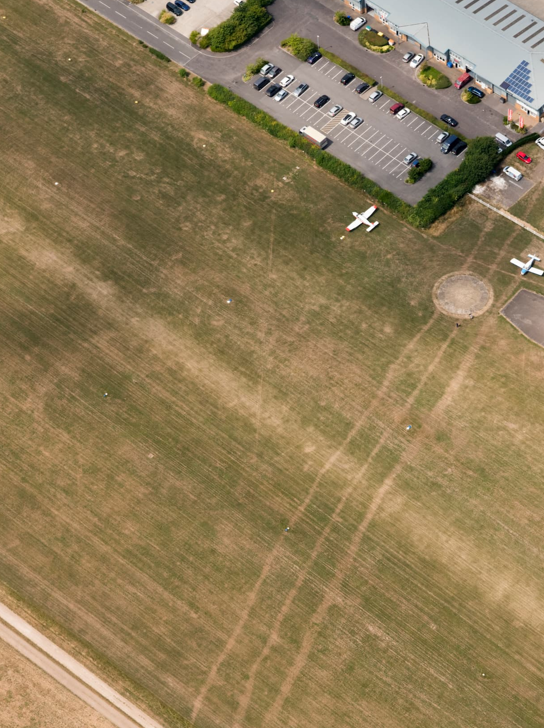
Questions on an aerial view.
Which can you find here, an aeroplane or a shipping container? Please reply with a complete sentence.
This aerial view contains an aeroplane.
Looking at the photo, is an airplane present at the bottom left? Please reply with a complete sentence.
No, no airplane can be made out at the bottom left.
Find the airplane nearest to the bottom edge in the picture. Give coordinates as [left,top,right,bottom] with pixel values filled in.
[508,252,544,277]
